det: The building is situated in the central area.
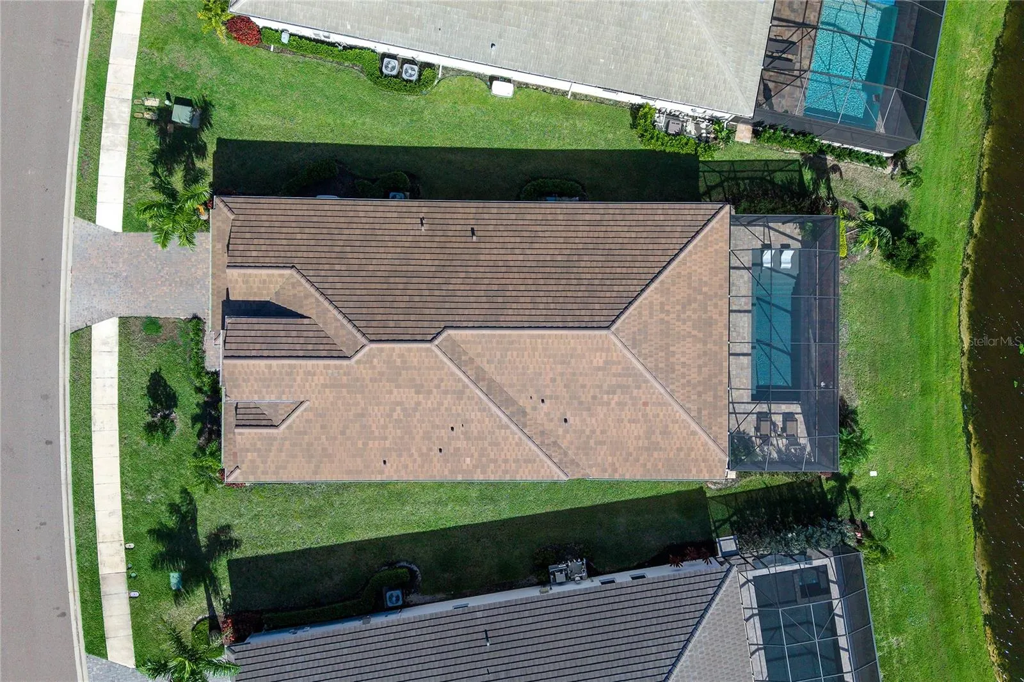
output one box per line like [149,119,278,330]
[211,197,731,484]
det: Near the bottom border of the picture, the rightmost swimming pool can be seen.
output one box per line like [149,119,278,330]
[750,560,848,682]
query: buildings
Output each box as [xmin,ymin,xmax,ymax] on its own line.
[228,0,774,120]
[224,557,753,682]
[211,197,731,484]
